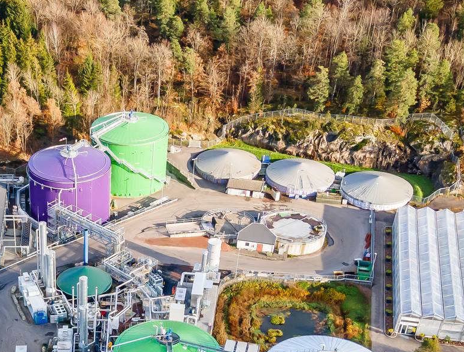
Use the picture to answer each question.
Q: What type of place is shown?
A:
industrial area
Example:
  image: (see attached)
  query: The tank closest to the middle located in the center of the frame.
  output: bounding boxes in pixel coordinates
[194,152,261,190]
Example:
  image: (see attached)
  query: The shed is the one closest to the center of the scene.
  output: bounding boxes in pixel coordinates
[226,175,267,198]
